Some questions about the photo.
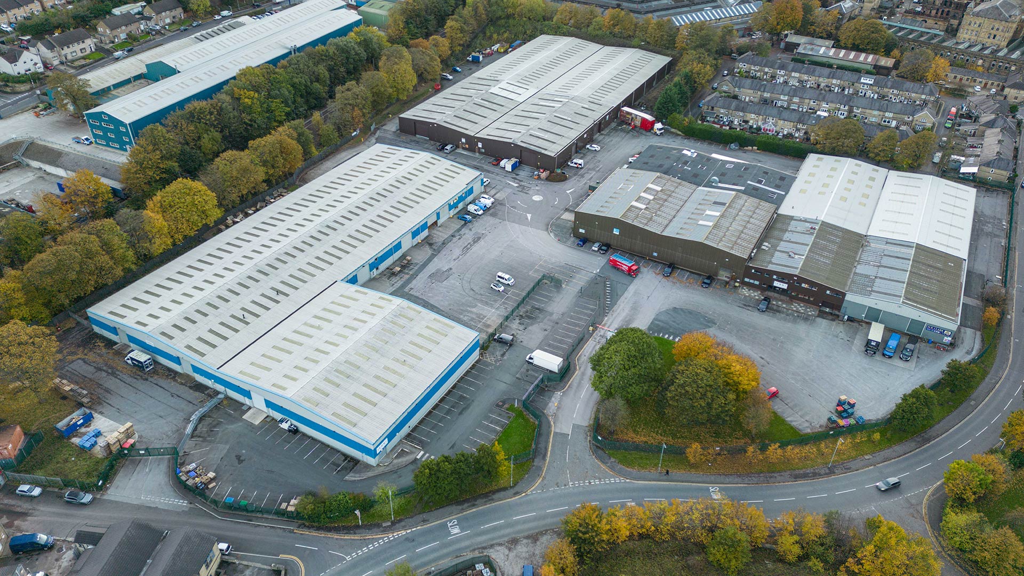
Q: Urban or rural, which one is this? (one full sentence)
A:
This place is urban.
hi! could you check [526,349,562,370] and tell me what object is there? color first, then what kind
white vehicle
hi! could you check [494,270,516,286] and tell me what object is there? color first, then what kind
white vehicle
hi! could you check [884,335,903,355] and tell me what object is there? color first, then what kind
blue vehicle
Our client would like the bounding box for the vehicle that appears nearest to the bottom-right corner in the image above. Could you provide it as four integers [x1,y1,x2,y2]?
[876,477,902,492]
